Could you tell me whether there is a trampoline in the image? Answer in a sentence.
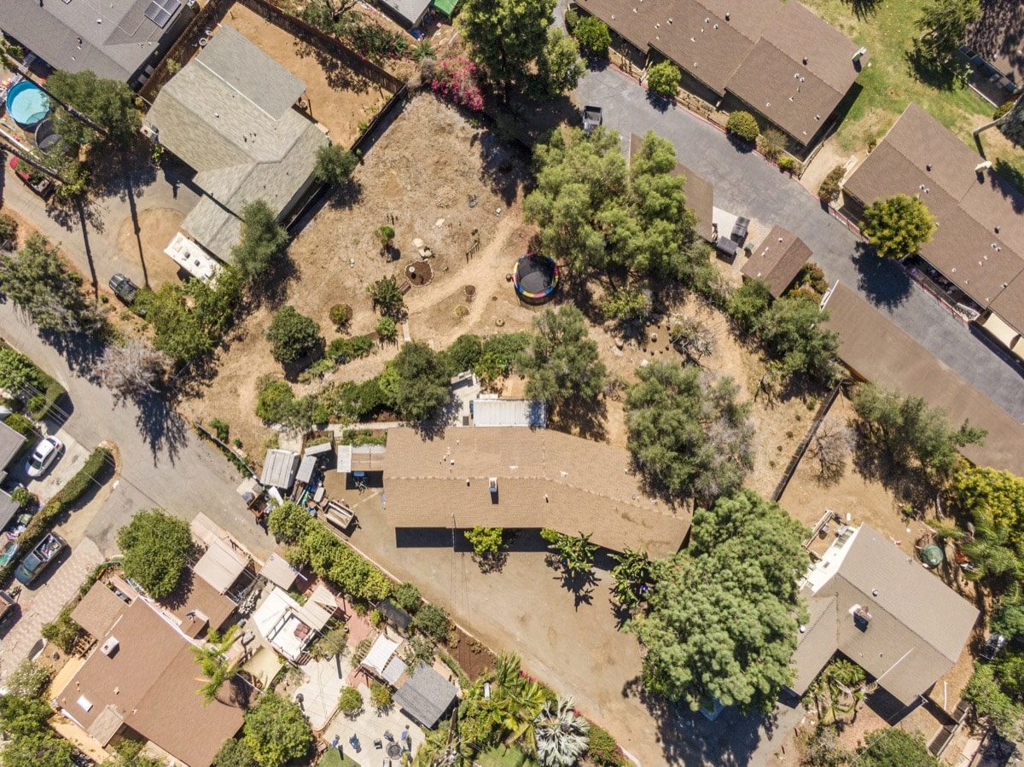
Yes, the image includes a trampoline.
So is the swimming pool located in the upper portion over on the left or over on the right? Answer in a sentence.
You can find the swimming pool located in the upper portion on the left side of the picture.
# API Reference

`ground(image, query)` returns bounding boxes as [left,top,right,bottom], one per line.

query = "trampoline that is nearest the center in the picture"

[514,252,560,301]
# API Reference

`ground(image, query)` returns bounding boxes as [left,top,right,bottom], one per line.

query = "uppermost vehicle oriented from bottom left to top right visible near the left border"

[21,434,64,478]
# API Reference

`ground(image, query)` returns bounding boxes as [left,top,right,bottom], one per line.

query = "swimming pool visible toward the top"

[0,79,51,129]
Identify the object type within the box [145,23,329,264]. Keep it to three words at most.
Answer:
house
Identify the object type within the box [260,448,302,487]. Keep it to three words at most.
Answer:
shed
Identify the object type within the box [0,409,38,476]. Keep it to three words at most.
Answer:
house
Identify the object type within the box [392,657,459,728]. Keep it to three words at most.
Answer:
shed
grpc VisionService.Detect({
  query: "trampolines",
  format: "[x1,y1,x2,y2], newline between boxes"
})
[514,252,560,301]
[31,120,66,157]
